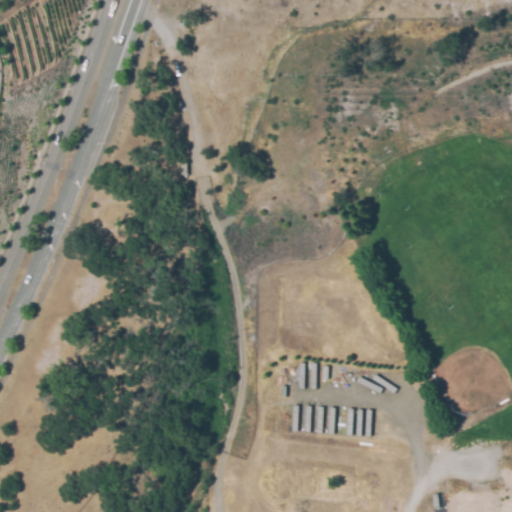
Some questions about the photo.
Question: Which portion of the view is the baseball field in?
right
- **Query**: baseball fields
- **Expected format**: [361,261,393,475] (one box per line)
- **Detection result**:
[346,133,512,448]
